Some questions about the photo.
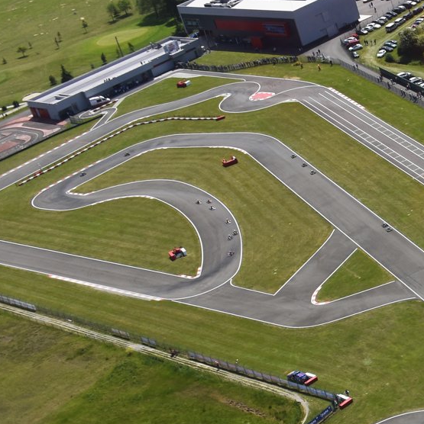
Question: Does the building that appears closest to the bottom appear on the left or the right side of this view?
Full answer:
You can find the building that appears closest to the bottom on the left side of the picture.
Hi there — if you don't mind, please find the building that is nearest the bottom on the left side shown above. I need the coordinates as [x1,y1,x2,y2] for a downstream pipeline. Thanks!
[26,36,198,119]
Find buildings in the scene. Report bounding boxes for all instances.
[177,0,354,45]
[26,36,198,119]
